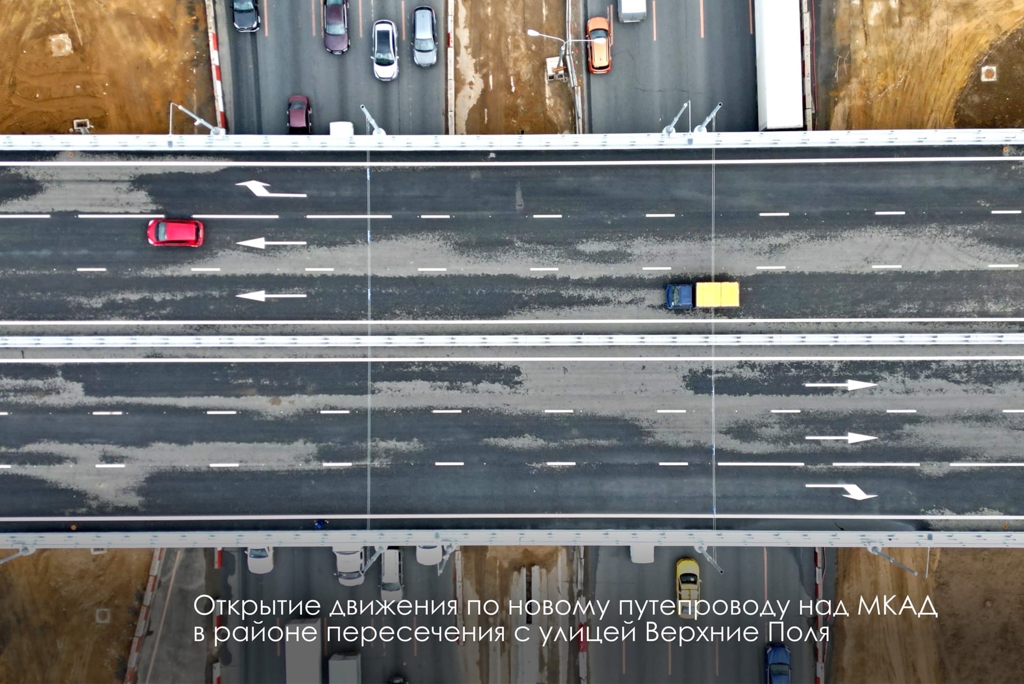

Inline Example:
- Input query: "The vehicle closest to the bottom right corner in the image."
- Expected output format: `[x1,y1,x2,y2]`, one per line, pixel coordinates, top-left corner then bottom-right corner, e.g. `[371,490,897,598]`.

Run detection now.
[765,643,795,684]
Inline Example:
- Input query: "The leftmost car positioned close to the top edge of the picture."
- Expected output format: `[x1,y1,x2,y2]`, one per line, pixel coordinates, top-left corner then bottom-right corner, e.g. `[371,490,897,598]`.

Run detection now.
[228,0,260,34]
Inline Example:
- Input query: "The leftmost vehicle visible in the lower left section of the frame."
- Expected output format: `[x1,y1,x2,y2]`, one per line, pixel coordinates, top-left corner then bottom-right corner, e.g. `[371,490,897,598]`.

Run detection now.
[243,548,274,574]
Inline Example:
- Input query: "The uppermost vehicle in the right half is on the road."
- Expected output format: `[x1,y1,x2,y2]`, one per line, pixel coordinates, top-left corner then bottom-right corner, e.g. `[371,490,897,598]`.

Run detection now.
[616,0,646,25]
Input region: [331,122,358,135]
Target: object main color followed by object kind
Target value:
white vehicle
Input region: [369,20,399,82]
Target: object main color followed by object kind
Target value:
white car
